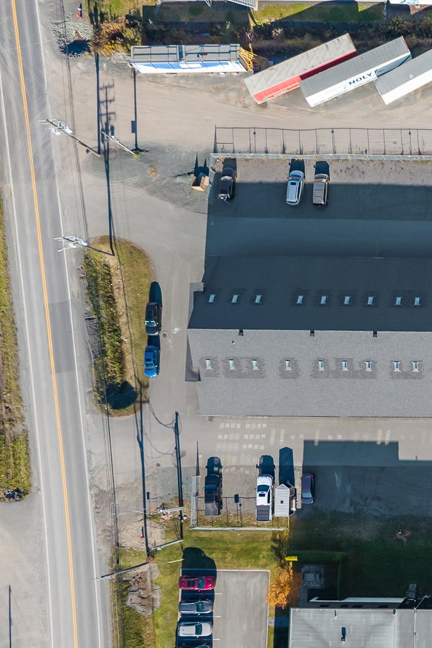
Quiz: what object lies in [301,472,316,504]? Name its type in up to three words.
car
